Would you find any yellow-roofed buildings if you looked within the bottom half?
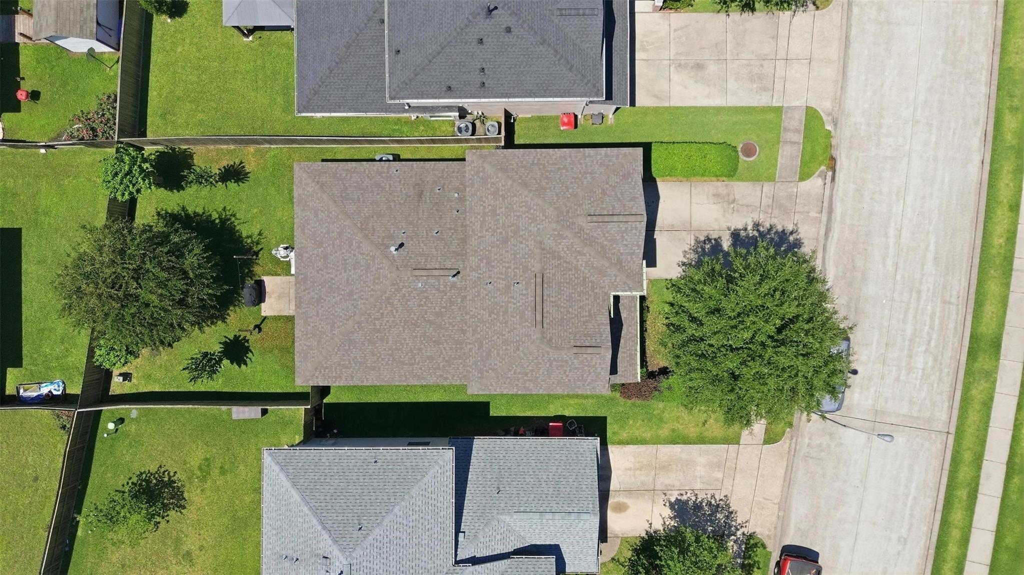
No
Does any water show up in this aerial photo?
No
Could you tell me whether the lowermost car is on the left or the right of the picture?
right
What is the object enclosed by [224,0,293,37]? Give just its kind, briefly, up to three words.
gazebo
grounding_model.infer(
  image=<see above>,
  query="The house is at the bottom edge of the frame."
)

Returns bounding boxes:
[260,433,603,575]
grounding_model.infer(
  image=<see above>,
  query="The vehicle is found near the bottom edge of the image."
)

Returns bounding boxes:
[775,553,822,575]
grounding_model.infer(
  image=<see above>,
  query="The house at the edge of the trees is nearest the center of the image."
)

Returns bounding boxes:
[295,149,647,394]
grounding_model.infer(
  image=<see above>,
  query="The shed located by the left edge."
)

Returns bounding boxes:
[33,0,120,52]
